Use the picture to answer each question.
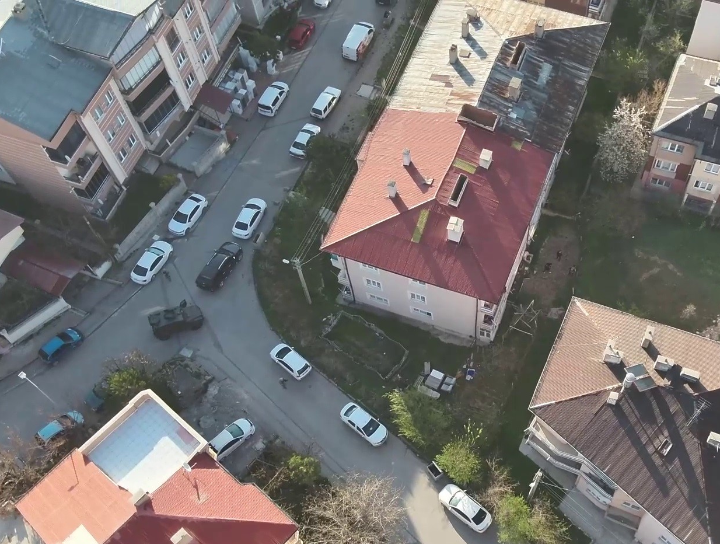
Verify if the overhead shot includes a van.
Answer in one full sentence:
Yes, looking at the shot, I can spot a van.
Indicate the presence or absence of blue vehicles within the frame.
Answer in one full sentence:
Yes, looking at the shot, I can spot a blue vehicle.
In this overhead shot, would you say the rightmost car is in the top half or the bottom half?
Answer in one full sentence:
The rightmost car is in the bottom half of the image.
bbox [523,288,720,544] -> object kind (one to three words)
house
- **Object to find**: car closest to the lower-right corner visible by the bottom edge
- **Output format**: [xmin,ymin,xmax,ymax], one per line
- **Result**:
[438,485,493,535]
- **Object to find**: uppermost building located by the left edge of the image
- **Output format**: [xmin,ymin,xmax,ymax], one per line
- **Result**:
[0,0,259,225]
